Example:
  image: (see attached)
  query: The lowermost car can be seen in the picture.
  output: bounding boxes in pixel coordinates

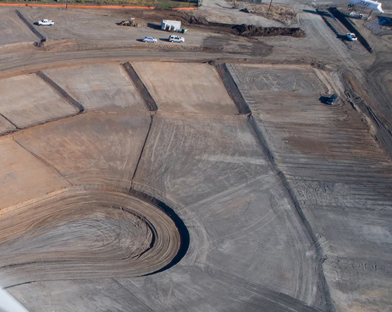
[325,90,338,103]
